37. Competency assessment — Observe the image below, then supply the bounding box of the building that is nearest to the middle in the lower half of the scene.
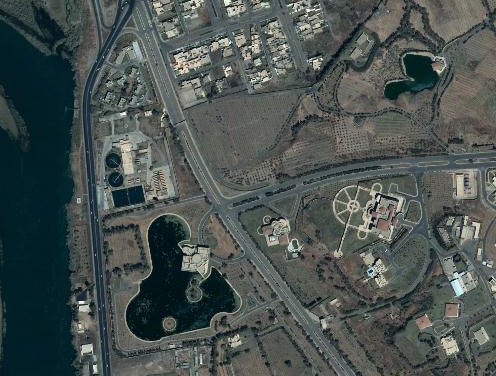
[263,217,288,244]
